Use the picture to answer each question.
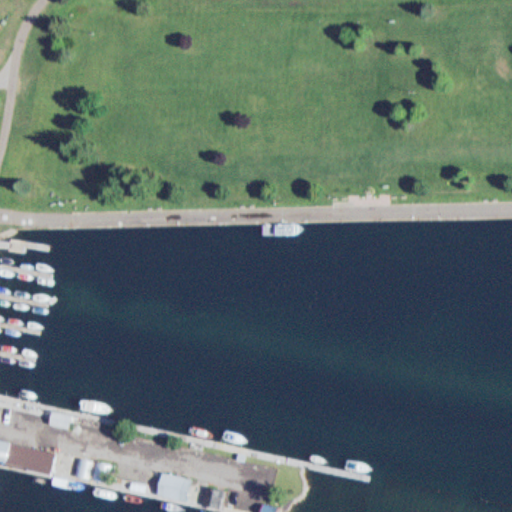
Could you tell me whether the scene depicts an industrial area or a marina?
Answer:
marina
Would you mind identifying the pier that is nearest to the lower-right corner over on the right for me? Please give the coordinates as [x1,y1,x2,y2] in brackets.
[304,460,372,483]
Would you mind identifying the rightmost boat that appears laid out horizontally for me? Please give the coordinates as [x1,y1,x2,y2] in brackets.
[344,460,373,474]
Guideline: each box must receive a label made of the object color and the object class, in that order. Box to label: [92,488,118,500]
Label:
white boat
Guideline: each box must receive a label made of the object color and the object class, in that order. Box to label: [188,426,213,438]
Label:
white boat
